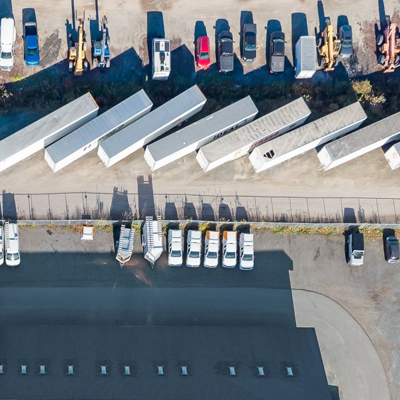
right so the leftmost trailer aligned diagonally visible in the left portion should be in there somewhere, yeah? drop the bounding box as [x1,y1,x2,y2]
[0,92,98,171]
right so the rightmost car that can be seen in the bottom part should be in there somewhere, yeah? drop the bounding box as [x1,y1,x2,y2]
[382,234,400,266]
